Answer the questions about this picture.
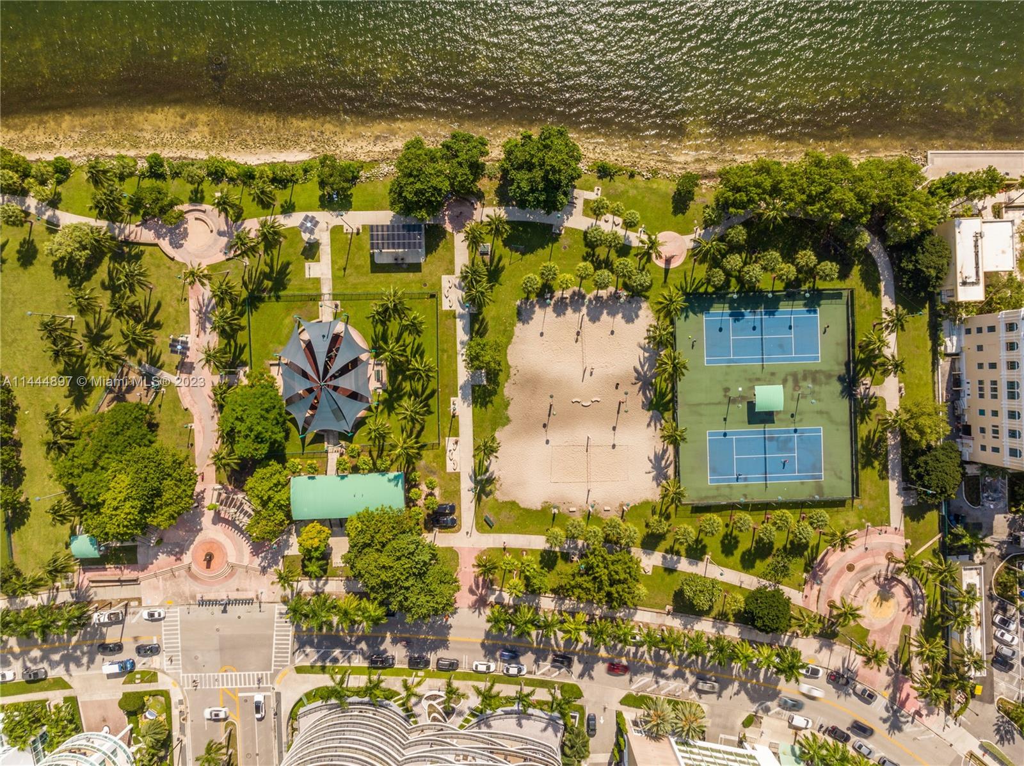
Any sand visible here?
Yes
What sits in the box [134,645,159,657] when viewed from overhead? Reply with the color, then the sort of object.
gray vehicle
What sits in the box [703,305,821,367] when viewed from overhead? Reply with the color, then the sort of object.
blue tennis court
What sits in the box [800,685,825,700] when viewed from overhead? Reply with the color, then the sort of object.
white car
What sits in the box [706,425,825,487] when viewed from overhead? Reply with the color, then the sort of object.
blue tennis court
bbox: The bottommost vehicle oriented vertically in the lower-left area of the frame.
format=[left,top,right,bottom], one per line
[251,695,263,720]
